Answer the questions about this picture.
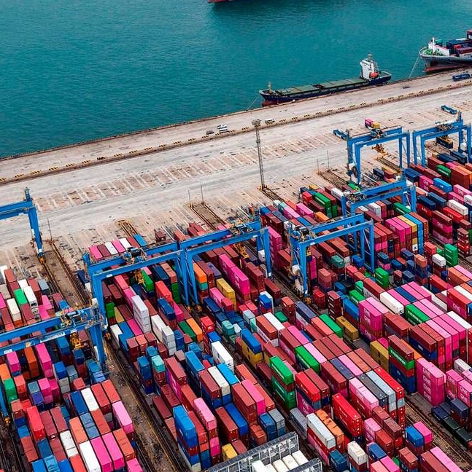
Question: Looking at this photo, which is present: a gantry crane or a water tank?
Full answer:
The one in the frame is a gantry crane.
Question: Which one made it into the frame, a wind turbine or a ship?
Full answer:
There is a ship in the scene.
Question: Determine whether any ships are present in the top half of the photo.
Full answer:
Yes, a ship is visible in the top half of the photo.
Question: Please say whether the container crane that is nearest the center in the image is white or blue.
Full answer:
From above, the container crane that is nearest the center appears blue.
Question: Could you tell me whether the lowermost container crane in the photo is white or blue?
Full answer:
The lowermost container crane is blue.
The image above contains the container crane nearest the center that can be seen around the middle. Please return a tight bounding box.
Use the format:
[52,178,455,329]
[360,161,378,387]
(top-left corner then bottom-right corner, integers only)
[173,215,279,323]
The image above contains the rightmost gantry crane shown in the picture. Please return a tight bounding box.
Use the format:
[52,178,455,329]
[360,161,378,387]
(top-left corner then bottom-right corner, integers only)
[406,114,472,175]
